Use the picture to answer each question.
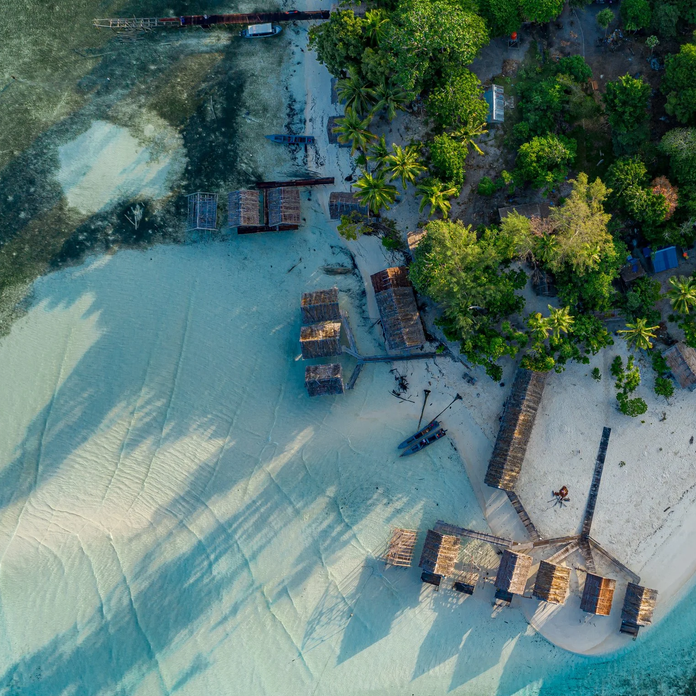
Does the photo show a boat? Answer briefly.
Yes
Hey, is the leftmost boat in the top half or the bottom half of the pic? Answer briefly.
top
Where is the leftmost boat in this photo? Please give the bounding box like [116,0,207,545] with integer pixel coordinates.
[239,20,283,41]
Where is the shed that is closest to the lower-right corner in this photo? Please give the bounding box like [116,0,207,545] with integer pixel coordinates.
[618,579,659,639]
